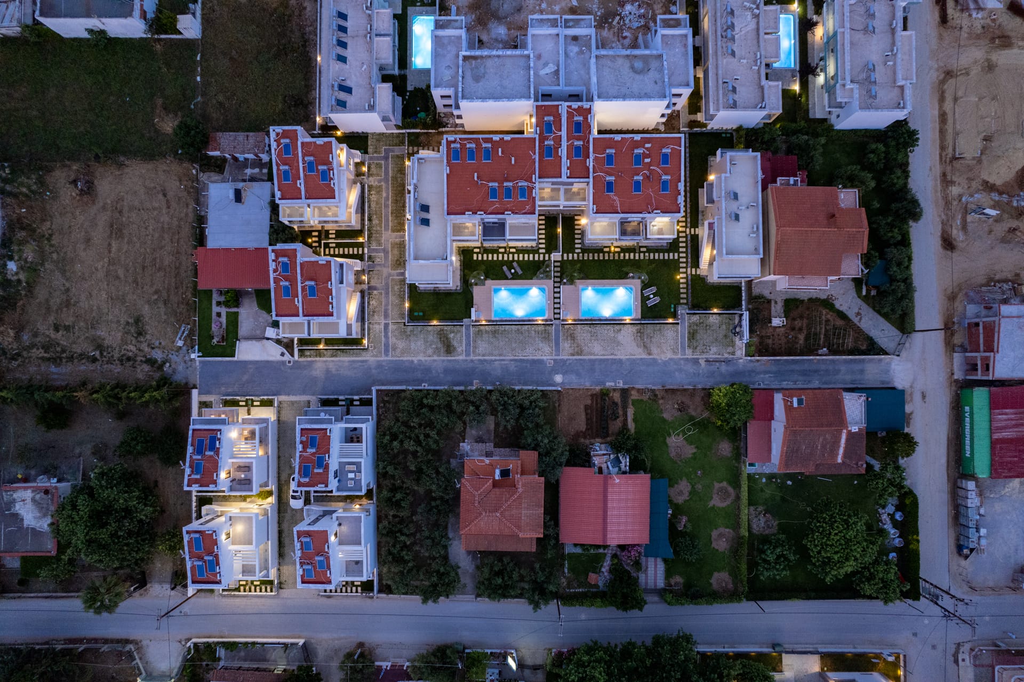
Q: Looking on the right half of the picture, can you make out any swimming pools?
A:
Yes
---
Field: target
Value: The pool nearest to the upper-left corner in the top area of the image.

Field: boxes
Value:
[407,6,441,91]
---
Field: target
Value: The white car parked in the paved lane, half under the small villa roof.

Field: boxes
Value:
[286,475,304,509]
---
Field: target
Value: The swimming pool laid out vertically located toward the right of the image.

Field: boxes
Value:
[768,4,797,88]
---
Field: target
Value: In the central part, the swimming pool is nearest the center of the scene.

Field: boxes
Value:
[474,280,552,320]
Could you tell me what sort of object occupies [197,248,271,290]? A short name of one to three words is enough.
house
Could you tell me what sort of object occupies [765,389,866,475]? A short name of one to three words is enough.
house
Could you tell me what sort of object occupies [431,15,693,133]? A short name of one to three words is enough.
building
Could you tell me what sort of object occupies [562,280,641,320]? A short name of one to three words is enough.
swimming pool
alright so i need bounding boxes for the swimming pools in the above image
[562,280,641,320]
[407,6,441,91]
[768,4,797,88]
[474,280,552,320]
